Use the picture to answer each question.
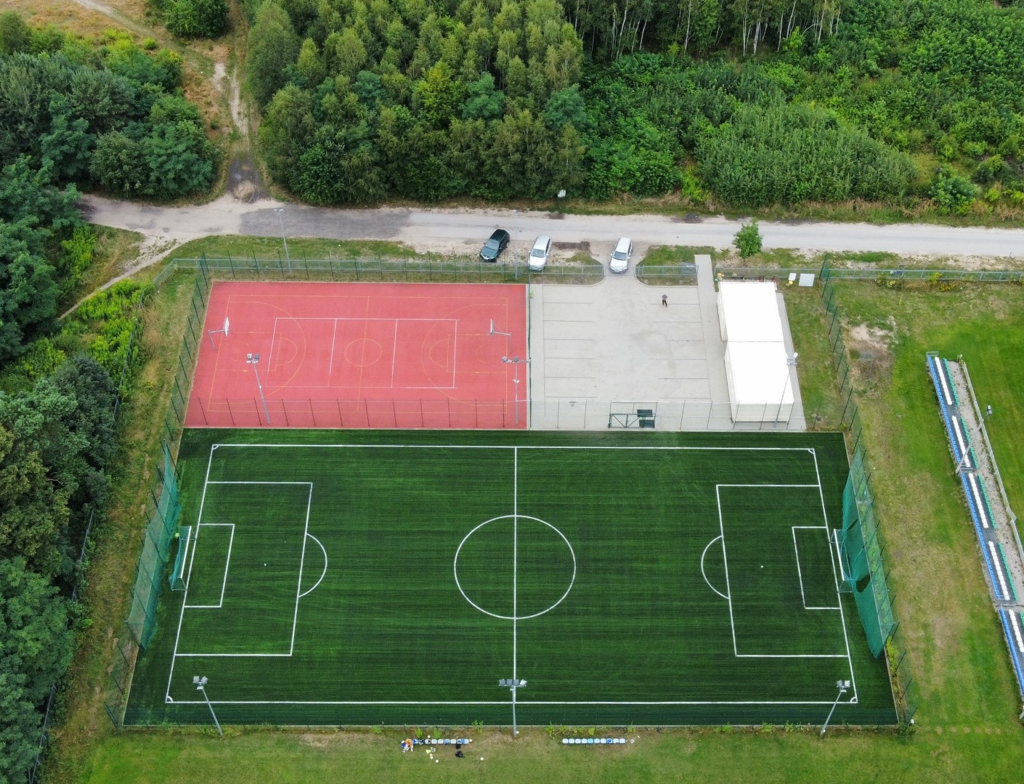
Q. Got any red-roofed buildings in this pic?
No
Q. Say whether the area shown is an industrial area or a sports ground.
sports ground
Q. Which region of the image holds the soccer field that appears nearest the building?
bottom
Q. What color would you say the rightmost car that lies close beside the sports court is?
white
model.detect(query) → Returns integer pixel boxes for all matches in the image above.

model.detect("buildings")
[718,282,793,421]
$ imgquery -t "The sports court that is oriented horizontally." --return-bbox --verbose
[182,281,806,431]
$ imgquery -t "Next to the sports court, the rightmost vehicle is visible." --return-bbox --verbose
[528,231,554,270]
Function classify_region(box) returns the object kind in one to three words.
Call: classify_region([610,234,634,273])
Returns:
car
